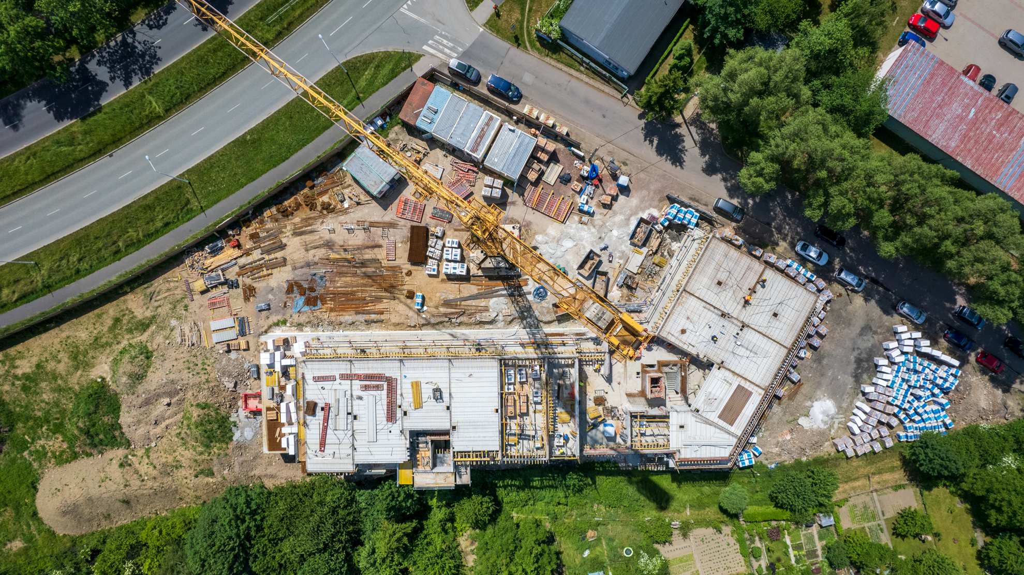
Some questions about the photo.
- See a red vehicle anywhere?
Yes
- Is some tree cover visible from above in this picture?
Yes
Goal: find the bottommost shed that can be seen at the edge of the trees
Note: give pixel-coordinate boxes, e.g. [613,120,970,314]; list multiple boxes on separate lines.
[818,513,840,533]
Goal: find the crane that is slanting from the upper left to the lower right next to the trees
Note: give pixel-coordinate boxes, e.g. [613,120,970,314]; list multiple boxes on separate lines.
[180,0,662,372]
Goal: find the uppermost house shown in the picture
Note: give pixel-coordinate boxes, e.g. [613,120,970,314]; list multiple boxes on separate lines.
[559,0,682,81]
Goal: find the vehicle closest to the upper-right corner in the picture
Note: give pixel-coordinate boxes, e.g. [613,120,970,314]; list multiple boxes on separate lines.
[992,27,1024,56]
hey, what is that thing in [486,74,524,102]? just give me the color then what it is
blue car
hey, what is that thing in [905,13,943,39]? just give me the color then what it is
red car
